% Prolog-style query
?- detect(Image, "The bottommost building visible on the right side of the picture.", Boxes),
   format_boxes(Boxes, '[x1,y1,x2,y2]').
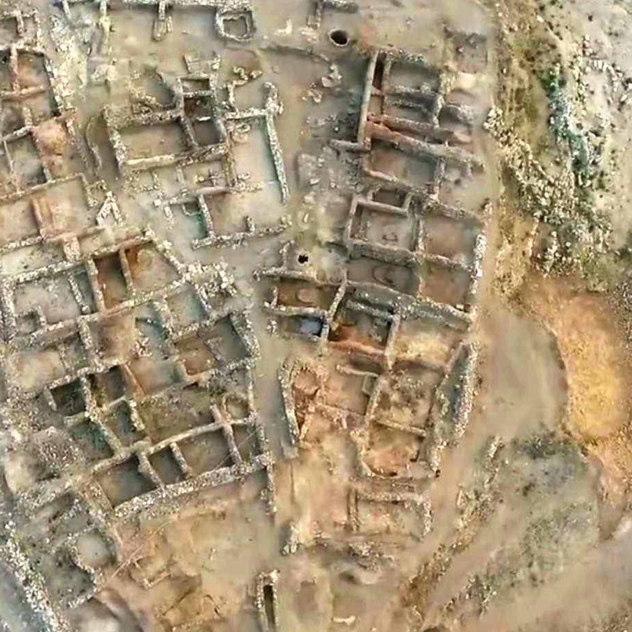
[348,490,434,532]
